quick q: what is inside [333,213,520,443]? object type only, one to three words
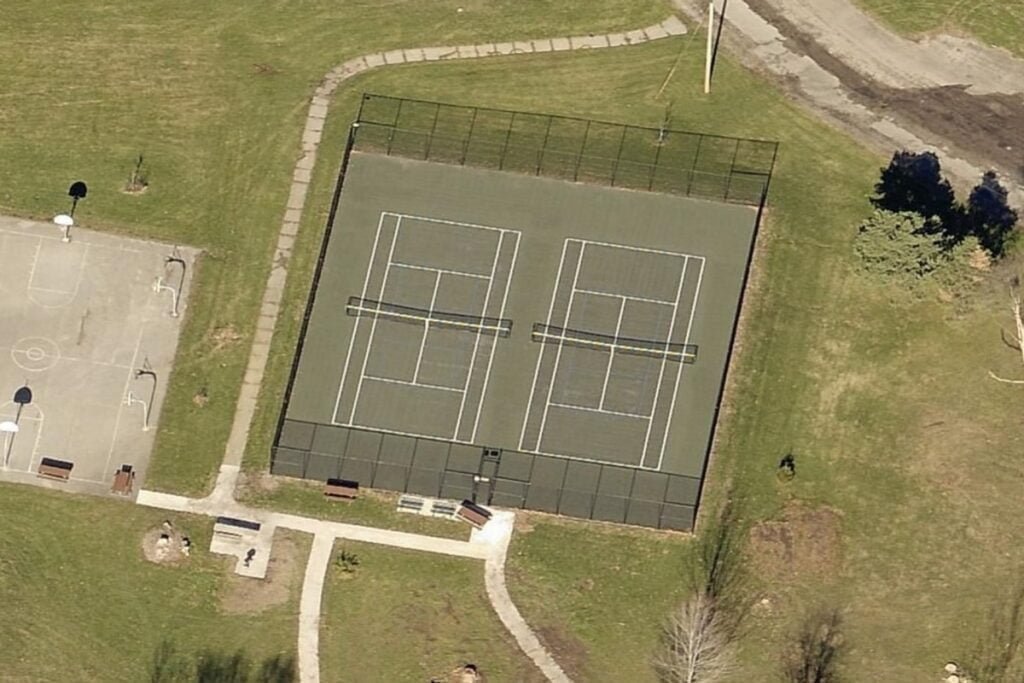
tennis court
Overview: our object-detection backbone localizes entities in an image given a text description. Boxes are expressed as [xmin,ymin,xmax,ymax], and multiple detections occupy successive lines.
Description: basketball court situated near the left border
[0,216,203,498]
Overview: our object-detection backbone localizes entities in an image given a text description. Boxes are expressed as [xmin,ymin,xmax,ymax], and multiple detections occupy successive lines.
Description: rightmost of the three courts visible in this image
[519,239,704,470]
